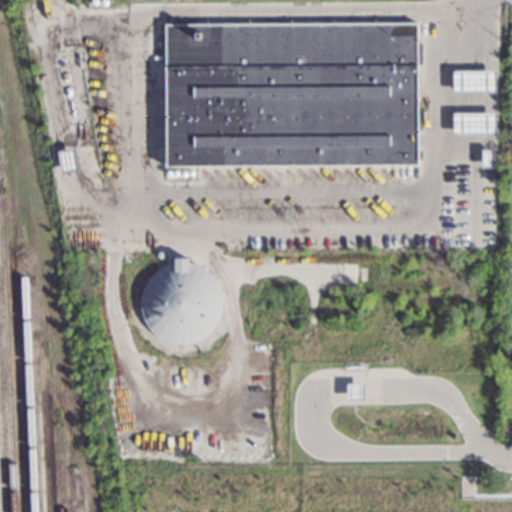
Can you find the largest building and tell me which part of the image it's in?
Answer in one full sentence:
The largest building appears toward the top of the photo.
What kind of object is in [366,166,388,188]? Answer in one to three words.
truck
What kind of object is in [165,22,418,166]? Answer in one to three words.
building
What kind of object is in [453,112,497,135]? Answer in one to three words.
shed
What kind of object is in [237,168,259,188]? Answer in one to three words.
vehicle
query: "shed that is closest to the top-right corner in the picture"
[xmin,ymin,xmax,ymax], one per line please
[453,70,497,94]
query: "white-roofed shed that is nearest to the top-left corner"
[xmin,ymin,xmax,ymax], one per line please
[59,151,76,174]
